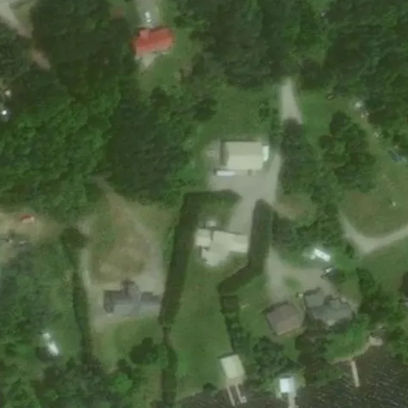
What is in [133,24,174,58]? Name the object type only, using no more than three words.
house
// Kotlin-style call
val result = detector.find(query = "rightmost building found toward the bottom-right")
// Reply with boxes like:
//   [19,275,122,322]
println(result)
[303,291,356,330]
